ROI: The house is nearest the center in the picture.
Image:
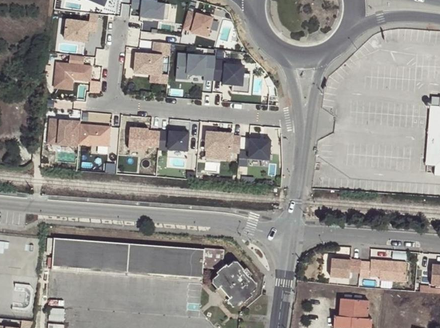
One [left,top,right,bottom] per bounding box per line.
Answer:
[204,131,241,163]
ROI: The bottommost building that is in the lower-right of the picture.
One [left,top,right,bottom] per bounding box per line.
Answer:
[334,300,373,328]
